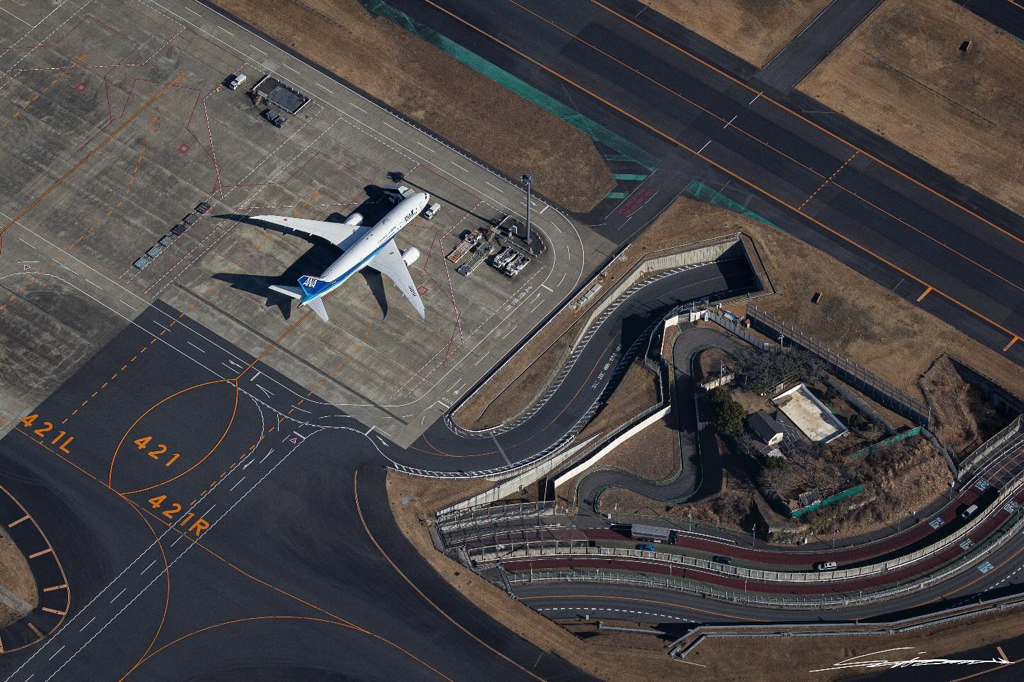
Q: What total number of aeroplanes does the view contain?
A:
1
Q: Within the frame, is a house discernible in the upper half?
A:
No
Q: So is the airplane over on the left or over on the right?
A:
left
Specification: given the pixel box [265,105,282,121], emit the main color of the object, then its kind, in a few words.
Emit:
gray work vehicle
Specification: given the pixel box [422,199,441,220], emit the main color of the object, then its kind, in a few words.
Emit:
white vehicle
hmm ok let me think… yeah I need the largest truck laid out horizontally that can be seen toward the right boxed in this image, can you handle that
[631,524,677,546]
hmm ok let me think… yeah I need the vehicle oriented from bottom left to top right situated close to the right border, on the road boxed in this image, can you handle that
[961,503,979,519]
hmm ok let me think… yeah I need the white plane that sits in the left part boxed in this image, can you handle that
[253,195,430,324]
